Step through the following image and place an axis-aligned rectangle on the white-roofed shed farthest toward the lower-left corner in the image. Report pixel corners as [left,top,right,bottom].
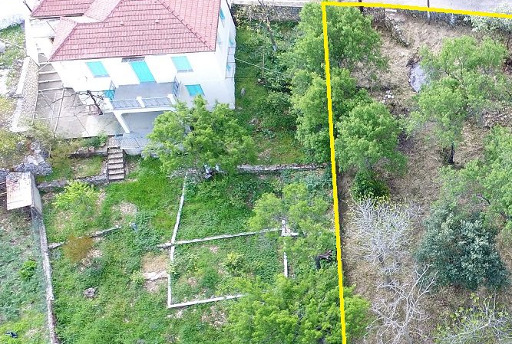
[7,171,41,221]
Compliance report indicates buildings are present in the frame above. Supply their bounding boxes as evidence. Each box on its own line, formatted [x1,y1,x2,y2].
[26,0,236,171]
[7,171,41,221]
